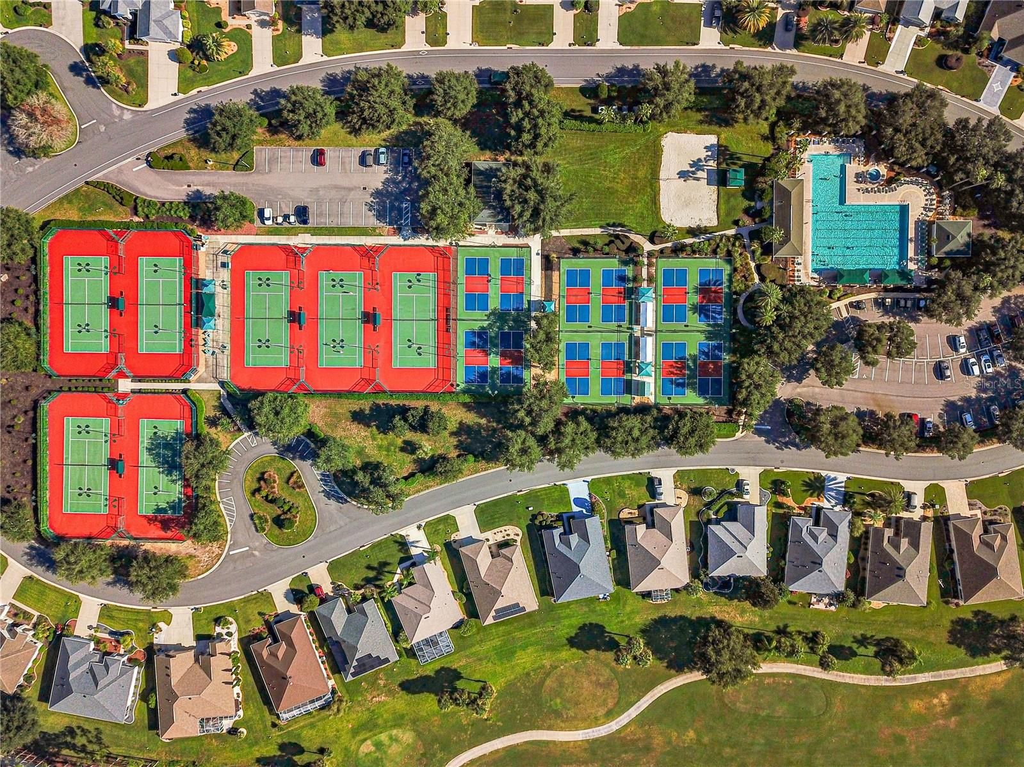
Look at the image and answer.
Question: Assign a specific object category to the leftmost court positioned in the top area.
tennis court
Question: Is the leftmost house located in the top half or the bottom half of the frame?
bottom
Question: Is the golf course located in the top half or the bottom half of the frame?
bottom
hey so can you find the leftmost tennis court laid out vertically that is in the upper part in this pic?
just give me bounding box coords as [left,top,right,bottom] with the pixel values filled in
[48,230,122,377]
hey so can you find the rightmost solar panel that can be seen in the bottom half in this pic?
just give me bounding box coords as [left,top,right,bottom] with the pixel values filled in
[493,603,526,621]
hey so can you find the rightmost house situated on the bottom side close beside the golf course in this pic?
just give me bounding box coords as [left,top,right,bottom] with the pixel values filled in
[948,517,1023,605]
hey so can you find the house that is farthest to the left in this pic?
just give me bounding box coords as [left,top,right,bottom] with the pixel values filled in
[0,627,44,695]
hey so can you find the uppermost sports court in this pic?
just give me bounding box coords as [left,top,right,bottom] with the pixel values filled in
[655,132,726,227]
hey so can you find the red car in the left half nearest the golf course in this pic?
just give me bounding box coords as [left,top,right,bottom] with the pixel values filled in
[313,581,326,601]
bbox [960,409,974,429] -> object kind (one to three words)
car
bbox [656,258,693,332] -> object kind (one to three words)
sports court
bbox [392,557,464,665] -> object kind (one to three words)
house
